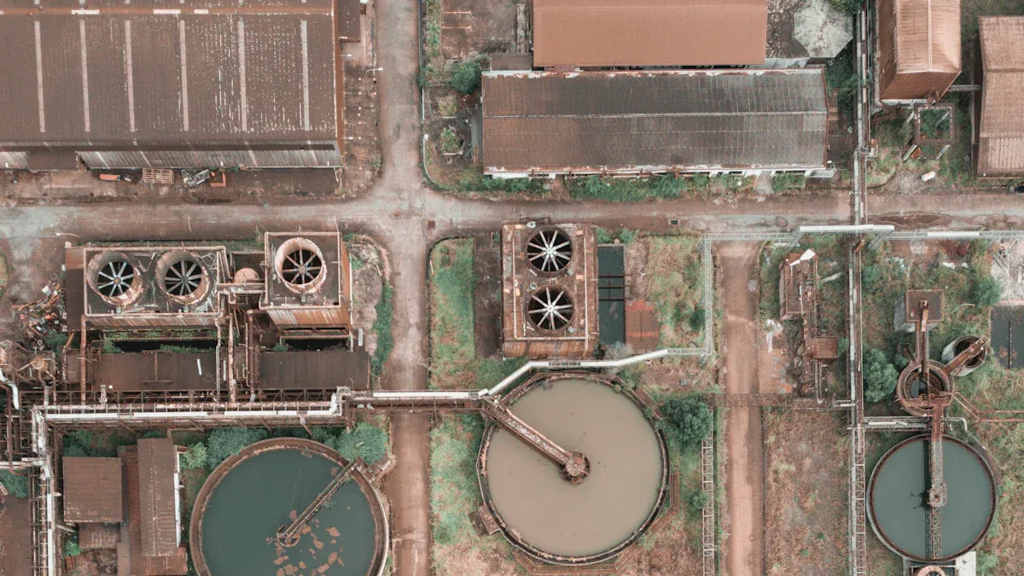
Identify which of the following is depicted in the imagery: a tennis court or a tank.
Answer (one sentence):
Visible in the photo is a tank.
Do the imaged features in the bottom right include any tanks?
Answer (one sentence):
Yes, you'll find a tank in the bottom right.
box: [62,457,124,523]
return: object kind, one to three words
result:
shed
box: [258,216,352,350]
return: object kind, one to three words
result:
cooling tower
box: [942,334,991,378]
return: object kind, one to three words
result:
storage tank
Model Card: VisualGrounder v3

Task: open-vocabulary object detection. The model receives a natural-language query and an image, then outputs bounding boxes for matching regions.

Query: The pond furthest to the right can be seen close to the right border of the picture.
[988,298,1024,370]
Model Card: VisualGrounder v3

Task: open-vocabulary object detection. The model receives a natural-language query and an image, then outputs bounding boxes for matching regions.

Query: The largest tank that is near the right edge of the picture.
[865,425,995,560]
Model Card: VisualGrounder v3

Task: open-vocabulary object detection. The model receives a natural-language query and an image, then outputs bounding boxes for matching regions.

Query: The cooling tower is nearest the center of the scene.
[501,218,600,358]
